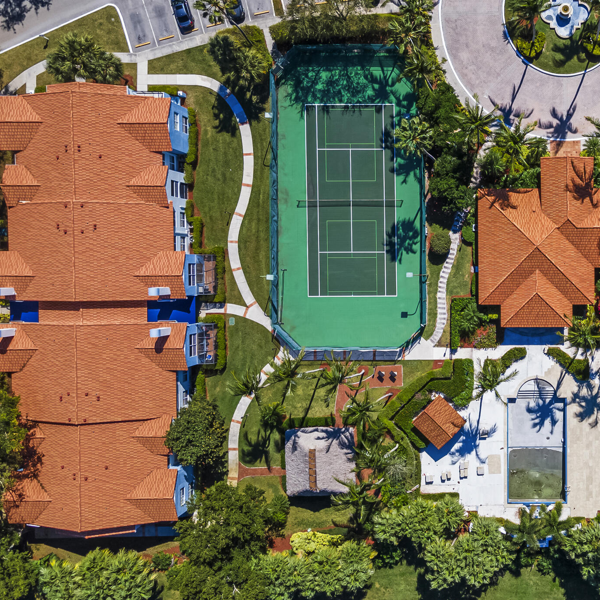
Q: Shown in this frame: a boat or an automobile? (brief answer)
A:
automobile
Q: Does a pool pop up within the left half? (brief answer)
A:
No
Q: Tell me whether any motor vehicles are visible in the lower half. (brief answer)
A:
No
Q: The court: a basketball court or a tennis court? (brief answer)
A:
tennis court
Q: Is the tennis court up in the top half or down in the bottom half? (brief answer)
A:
top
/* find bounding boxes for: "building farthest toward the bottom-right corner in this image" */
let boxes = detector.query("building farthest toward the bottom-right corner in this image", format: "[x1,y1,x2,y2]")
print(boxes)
[411,394,467,450]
